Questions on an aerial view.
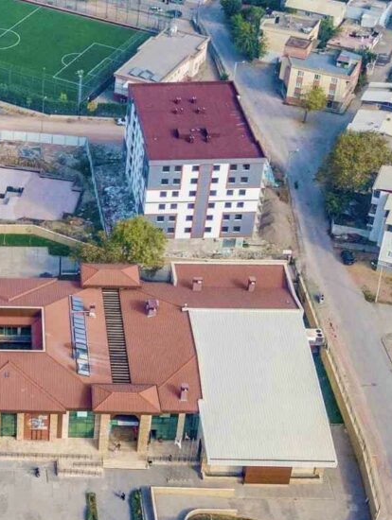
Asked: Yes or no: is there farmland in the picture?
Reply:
No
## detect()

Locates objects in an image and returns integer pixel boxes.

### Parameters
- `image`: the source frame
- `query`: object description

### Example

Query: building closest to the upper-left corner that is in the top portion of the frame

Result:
[113,28,208,100]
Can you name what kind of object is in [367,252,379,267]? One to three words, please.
vehicle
